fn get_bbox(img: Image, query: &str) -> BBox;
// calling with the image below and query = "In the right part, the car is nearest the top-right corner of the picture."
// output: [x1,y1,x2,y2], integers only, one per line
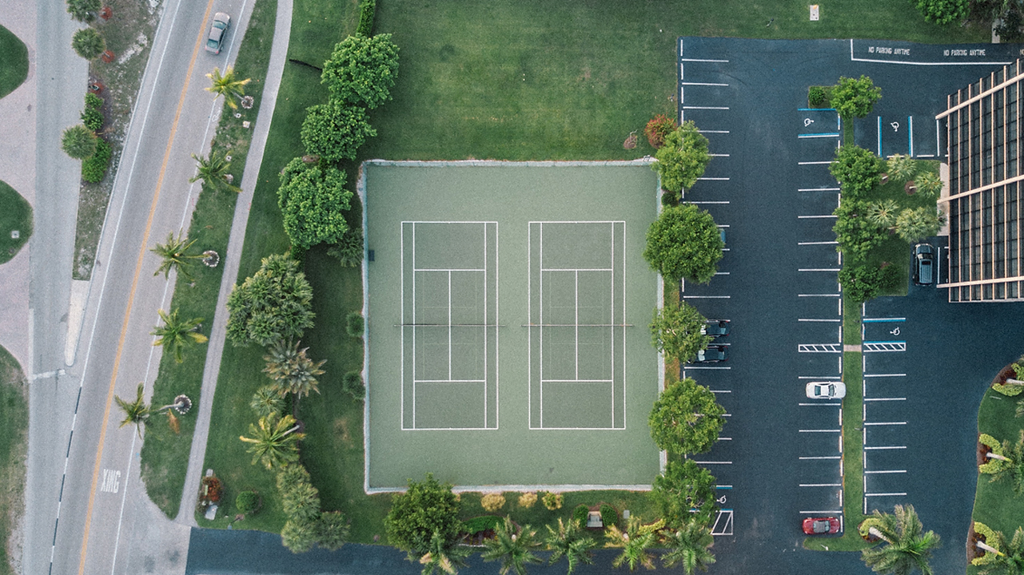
[914,243,937,285]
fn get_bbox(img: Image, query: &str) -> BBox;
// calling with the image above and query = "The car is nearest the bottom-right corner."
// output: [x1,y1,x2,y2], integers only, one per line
[803,519,840,537]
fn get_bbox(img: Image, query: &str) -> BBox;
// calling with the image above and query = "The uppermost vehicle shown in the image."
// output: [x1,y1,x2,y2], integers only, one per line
[201,10,229,53]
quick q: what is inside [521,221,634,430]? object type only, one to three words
tennis court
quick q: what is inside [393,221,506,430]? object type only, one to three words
tennis court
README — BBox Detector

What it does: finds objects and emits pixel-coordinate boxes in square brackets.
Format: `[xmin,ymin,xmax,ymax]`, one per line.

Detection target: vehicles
[201,10,229,53]
[688,319,730,338]
[803,519,840,537]
[807,381,847,401]
[914,243,937,285]
[686,345,729,364]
